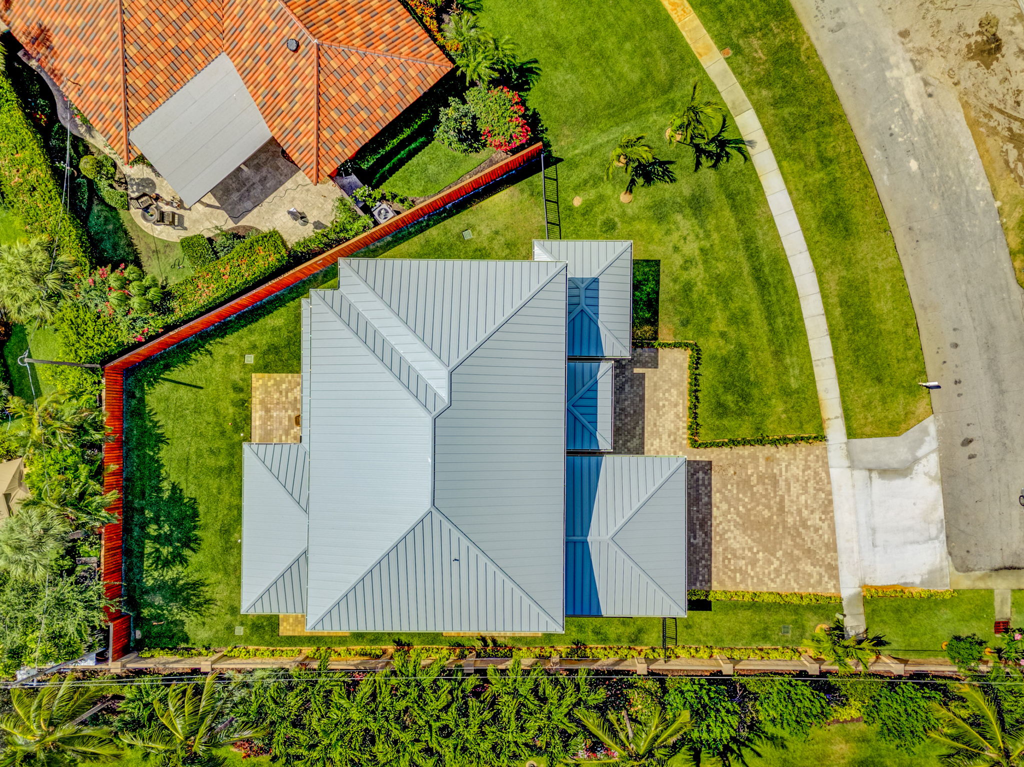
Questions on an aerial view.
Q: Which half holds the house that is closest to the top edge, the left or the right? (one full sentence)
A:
It is on the left.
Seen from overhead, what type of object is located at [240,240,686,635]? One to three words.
house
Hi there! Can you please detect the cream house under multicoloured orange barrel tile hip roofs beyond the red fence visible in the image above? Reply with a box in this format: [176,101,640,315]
[0,0,453,186]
